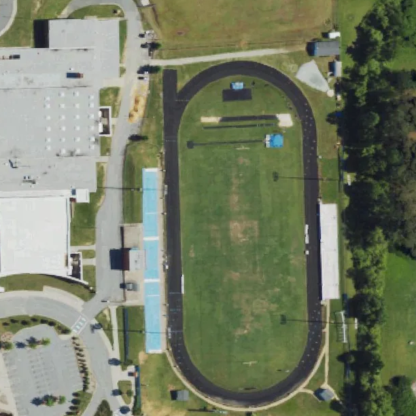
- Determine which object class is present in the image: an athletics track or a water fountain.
athletics track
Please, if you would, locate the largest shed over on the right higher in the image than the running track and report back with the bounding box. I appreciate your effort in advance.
[312,40,342,56]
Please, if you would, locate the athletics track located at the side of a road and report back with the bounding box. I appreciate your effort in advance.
[162,59,324,405]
